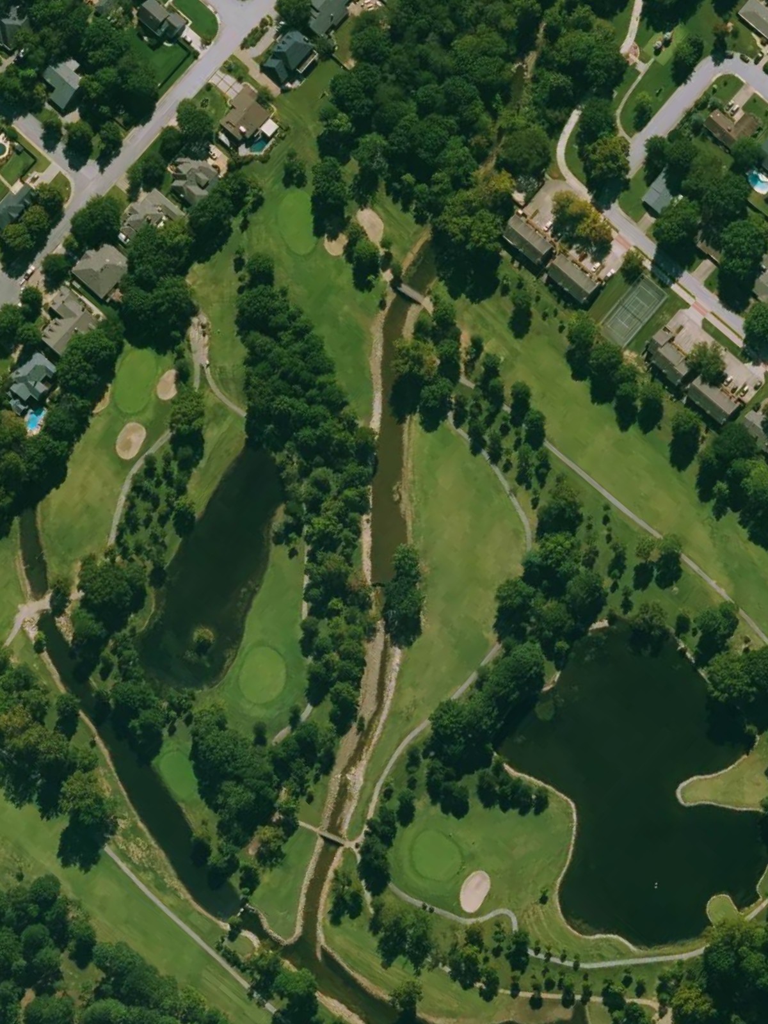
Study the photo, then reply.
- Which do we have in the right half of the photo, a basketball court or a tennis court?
tennis court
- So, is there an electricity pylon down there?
No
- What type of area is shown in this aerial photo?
golf course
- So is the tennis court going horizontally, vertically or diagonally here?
diagonally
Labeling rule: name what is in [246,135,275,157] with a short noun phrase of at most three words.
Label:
swimming pool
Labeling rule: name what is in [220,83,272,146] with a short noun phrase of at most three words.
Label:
house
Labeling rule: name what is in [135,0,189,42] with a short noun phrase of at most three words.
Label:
house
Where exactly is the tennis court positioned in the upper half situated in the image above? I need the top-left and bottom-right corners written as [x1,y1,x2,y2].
[598,273,670,348]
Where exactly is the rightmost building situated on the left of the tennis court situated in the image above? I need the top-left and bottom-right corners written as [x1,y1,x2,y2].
[546,254,601,304]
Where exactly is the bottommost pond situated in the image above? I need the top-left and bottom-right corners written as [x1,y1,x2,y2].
[136,440,283,693]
